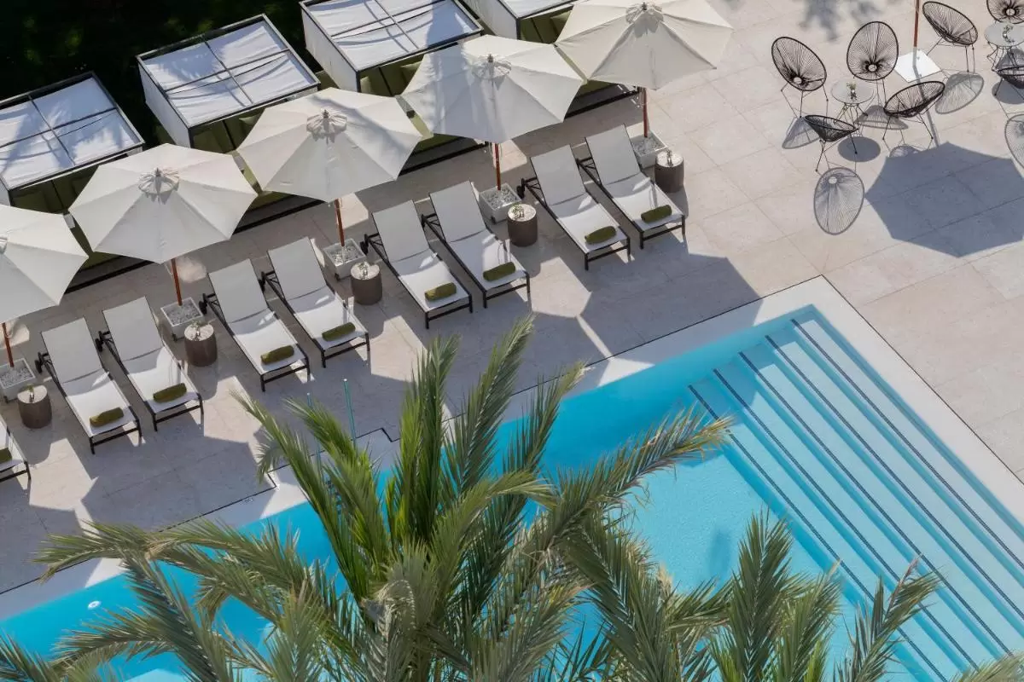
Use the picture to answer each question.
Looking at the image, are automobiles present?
No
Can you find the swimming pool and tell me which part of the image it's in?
bottom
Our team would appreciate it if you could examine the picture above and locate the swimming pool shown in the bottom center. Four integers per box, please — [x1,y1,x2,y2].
[3,310,926,682]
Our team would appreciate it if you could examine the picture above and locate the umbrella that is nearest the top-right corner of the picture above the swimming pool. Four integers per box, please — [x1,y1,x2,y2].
[887,0,942,84]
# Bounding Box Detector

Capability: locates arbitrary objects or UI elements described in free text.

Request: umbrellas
[68,144,259,311]
[556,0,733,143]
[236,88,422,253]
[887,0,942,84]
[0,202,87,372]
[403,34,585,196]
